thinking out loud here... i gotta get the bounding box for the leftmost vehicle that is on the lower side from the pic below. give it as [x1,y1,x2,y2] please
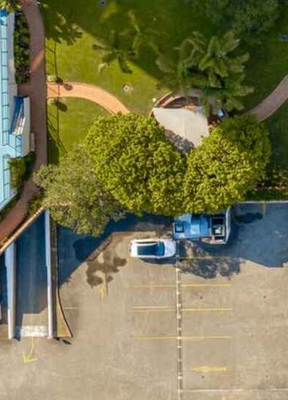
[131,238,176,260]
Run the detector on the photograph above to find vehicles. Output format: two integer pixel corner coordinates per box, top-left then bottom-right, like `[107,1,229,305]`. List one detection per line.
[175,212,229,242]
[131,238,176,260]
